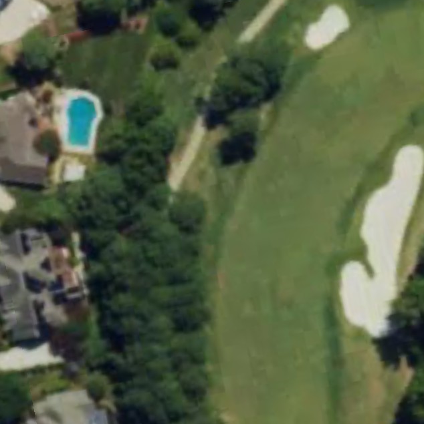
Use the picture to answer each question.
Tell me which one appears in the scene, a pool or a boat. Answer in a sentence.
Of the two, only a pool appears.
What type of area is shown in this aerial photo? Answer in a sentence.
This image shows a golf course.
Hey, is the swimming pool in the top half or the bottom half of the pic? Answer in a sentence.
The top half of the photo is where the swimming pool is.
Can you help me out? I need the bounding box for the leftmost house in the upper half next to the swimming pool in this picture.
[0,92,48,185]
